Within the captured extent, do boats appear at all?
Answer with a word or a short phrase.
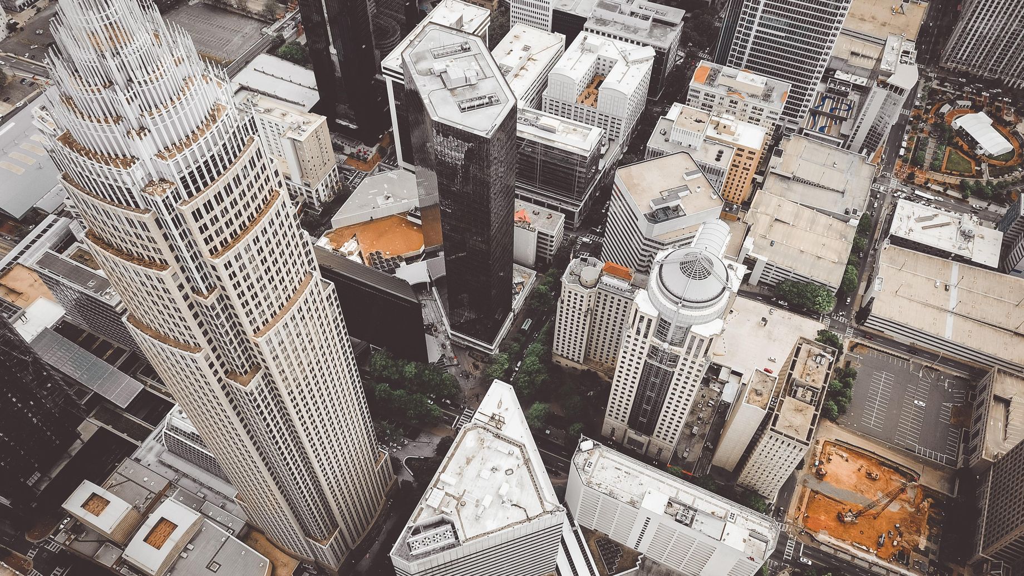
No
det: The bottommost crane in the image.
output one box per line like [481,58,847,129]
[835,479,916,523]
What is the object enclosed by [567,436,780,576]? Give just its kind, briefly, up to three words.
building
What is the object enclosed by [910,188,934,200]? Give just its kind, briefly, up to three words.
vehicle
